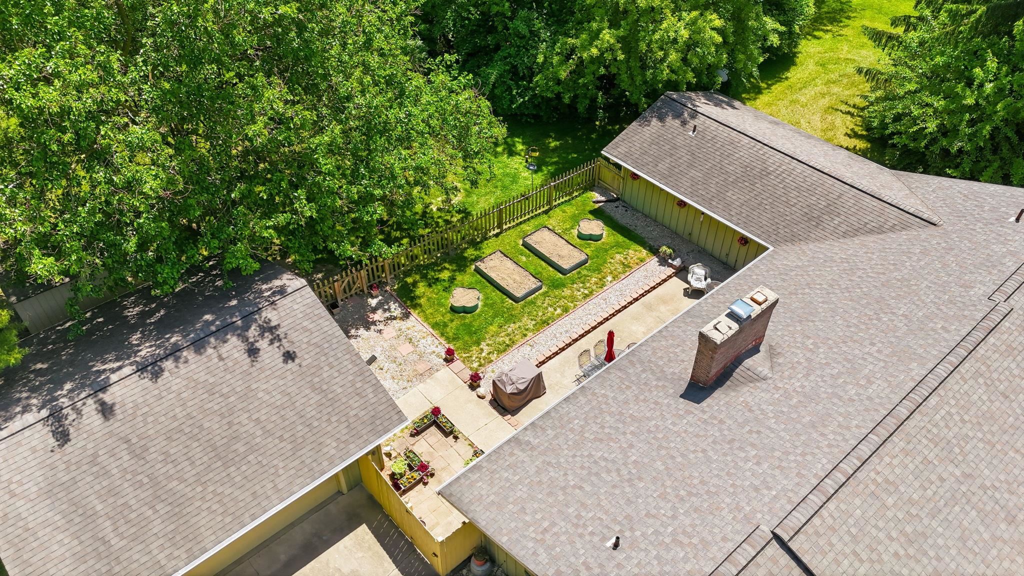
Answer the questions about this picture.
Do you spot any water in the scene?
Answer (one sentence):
No, the scene doesn't show any water.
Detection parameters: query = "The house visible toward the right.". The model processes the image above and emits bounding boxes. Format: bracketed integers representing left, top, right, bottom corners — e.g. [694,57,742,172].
[424,92,1024,576]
